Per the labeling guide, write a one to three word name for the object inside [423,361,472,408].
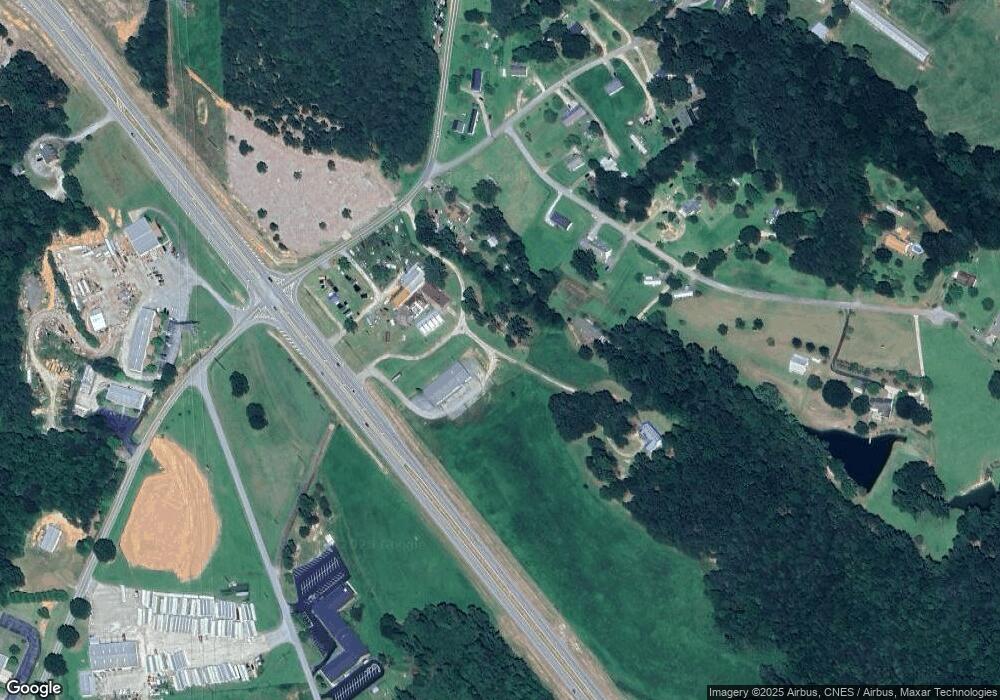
building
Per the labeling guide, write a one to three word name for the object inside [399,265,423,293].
barn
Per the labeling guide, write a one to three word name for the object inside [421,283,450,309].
house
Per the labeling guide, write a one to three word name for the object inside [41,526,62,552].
barn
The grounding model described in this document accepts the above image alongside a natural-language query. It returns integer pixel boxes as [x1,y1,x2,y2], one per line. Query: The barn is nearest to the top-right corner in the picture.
[843,0,931,62]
